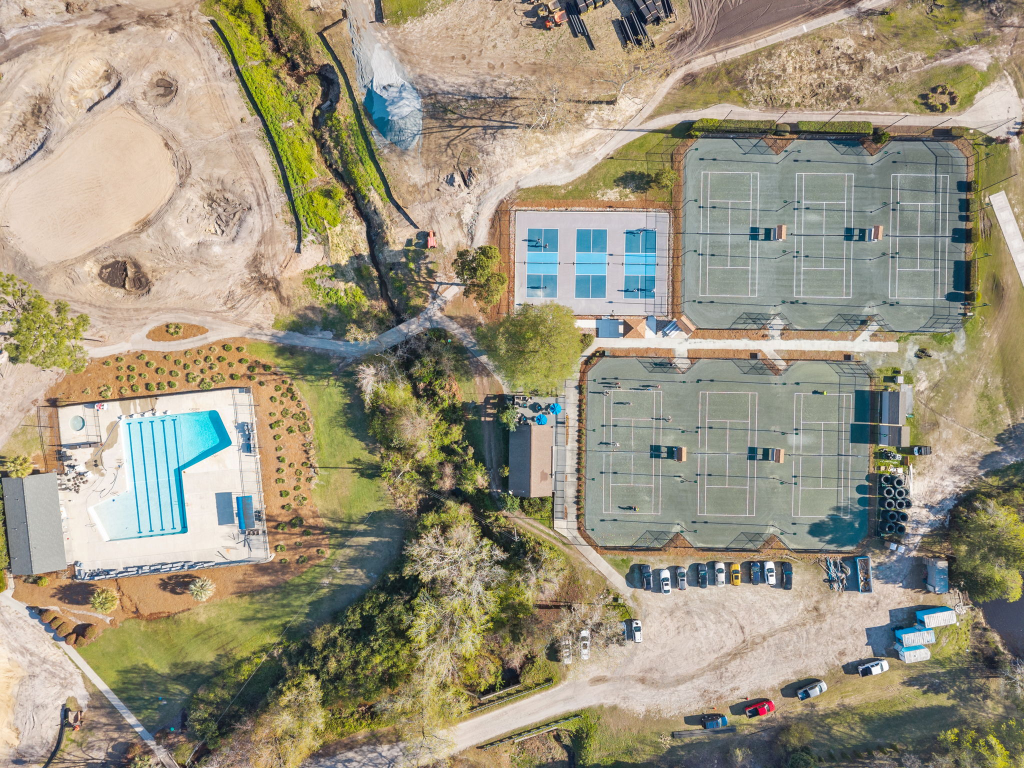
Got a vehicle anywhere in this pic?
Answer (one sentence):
Yes, there's a vehicle here.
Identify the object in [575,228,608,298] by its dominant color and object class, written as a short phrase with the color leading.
blue sports court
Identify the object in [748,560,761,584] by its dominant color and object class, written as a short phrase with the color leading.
blue vehicle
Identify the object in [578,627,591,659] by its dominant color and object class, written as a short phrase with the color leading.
white vehicle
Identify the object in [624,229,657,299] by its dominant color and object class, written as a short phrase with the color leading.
blue sports court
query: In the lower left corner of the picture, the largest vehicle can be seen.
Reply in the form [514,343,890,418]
[65,711,82,732]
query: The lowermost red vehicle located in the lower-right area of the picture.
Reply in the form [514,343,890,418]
[743,698,775,717]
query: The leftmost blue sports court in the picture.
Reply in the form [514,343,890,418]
[526,228,559,298]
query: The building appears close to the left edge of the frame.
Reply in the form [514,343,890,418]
[1,472,72,575]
